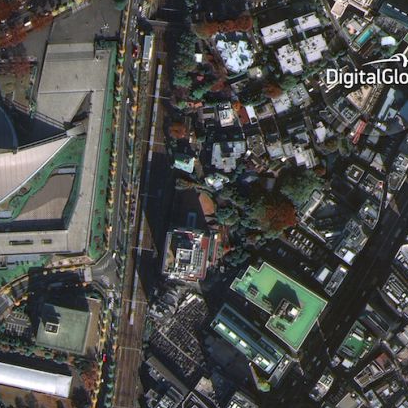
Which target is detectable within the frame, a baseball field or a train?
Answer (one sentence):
I can see a train in this picture.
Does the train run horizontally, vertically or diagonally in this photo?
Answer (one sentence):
The train has been laid out vertically relative to the frame.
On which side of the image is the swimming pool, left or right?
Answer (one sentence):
It is on the right.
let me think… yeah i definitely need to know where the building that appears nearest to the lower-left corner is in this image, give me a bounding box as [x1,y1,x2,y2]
[0,364,72,400]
